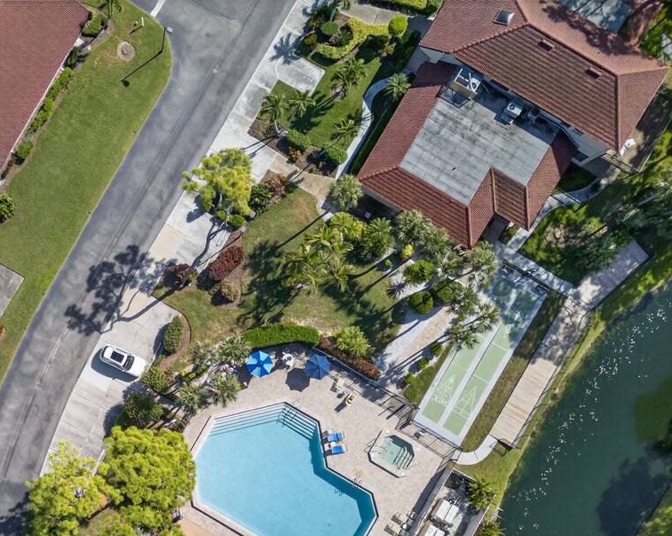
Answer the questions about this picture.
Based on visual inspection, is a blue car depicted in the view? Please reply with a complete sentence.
No, the scene contains no blue car.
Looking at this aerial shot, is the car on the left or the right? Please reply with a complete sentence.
The car sits on the left side.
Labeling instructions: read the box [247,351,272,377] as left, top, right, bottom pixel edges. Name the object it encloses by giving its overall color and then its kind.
blue umbrella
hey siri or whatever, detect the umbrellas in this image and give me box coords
[247,351,272,377]
[303,353,330,379]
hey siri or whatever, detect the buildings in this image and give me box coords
[359,0,670,246]
[0,0,91,172]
